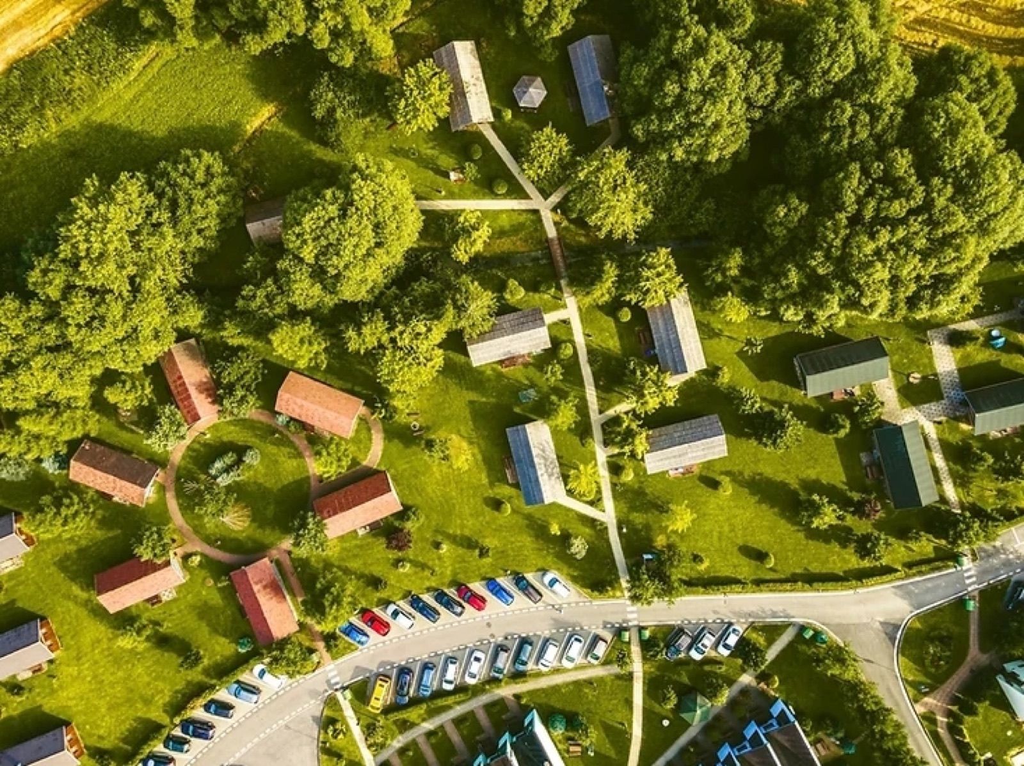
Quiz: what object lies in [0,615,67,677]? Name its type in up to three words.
building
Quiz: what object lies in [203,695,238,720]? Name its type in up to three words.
car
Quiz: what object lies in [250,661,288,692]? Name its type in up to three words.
car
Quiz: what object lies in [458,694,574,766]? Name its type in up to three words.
house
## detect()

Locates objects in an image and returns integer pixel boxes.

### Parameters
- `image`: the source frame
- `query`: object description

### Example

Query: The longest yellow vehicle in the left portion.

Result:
[366,672,392,715]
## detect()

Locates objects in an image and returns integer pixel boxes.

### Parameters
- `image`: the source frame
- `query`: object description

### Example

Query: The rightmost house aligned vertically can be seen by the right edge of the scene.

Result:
[996,662,1024,725]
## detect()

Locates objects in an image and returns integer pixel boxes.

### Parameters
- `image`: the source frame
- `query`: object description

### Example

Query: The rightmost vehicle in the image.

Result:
[999,576,1024,615]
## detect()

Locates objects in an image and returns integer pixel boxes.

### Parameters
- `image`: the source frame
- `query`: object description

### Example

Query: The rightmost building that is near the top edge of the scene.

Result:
[567,34,630,129]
